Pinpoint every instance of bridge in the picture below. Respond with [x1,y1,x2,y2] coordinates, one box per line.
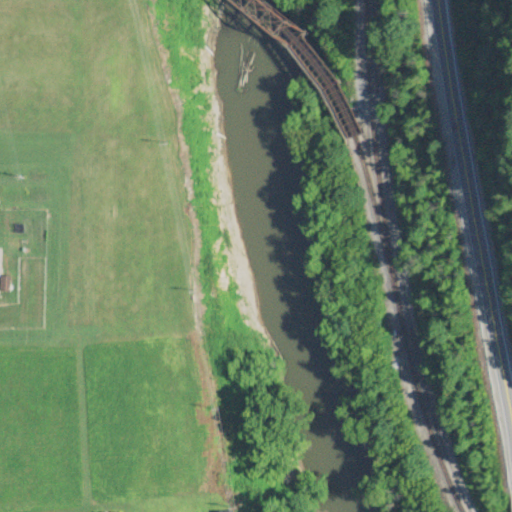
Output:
[230,0,360,136]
